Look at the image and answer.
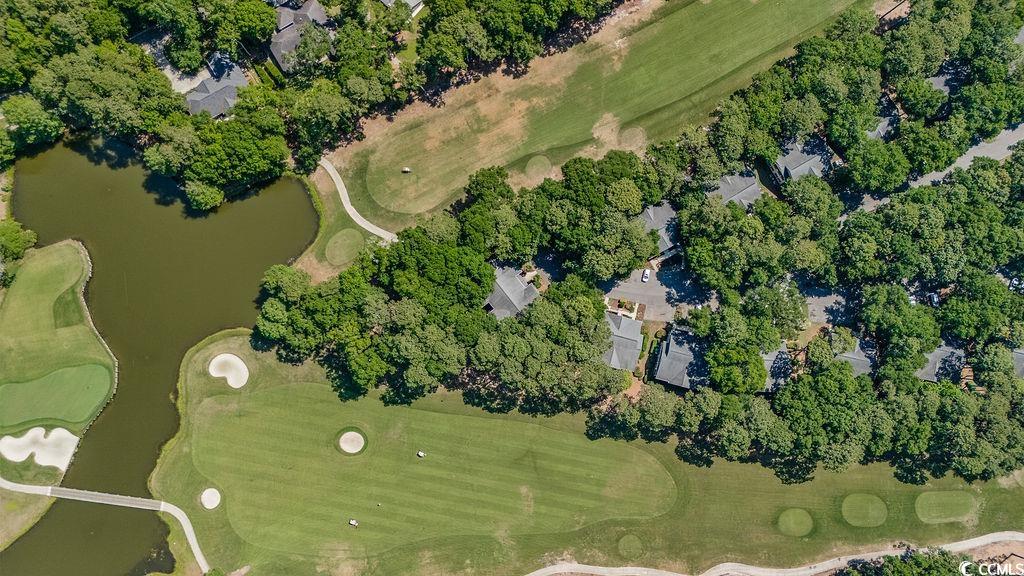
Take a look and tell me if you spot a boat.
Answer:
No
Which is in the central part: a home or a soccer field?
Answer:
home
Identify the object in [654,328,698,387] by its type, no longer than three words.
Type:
house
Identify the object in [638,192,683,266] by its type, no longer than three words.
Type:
house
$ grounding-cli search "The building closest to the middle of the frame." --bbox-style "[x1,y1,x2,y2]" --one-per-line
[479,264,553,322]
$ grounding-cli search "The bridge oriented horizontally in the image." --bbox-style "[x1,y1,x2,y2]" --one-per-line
[47,486,164,512]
